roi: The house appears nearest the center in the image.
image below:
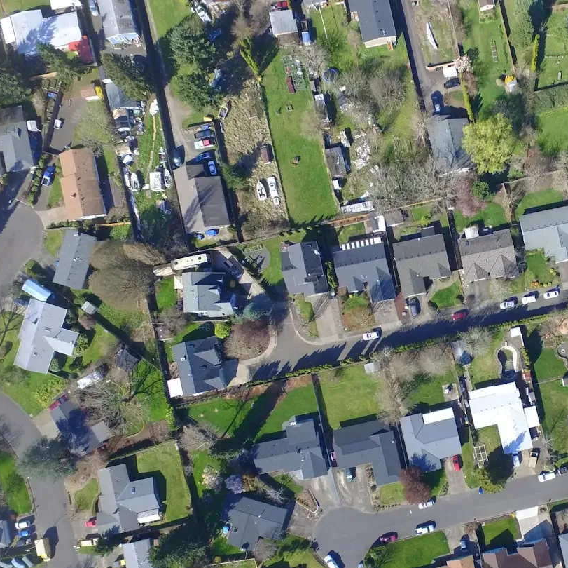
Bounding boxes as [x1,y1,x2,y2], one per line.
[278,241,329,301]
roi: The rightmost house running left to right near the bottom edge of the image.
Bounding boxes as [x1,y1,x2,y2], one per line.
[480,537,555,568]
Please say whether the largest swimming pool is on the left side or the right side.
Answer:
right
